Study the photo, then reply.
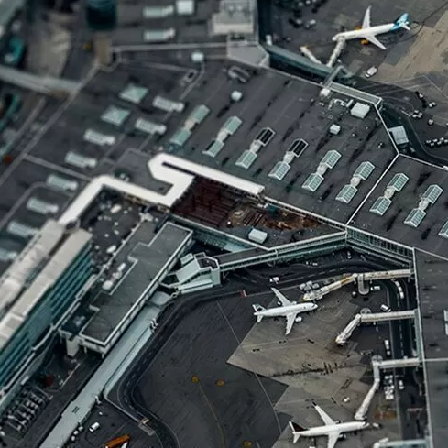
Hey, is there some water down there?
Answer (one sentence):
No, there is no water in the image.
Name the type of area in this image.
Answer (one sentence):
The picture captures an airport.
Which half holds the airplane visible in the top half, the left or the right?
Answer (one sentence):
You can find the airplane visible in the top half on the right side of the picture.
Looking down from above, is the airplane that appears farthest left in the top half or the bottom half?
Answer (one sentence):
The airplane that appears farthest left sits in the bottom half of the picture.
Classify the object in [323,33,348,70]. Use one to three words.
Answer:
jet bridge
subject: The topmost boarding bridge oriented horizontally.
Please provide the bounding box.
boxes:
[298,265,414,306]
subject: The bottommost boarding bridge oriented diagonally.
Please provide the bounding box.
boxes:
[351,357,421,424]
